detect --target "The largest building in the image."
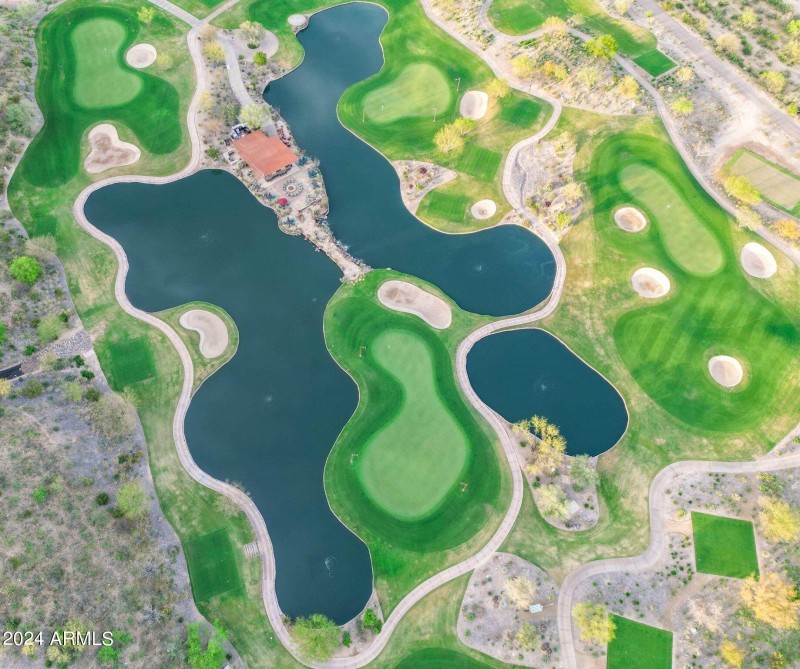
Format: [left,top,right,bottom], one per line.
[233,129,299,184]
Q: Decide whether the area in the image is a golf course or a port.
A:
golf course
